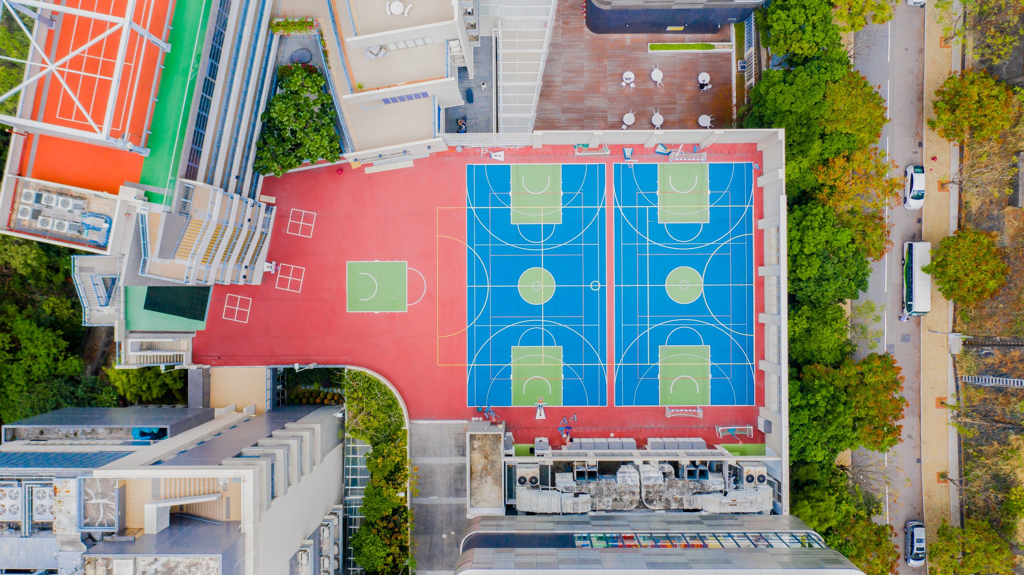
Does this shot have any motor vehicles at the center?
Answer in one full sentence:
No, looking at the center, there is no motor vehicle.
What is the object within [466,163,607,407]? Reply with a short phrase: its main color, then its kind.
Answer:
blue basketball court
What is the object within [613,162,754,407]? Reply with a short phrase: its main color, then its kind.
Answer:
blue basketball court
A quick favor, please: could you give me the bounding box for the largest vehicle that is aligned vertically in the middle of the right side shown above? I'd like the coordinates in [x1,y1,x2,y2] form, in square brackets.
[902,241,935,315]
